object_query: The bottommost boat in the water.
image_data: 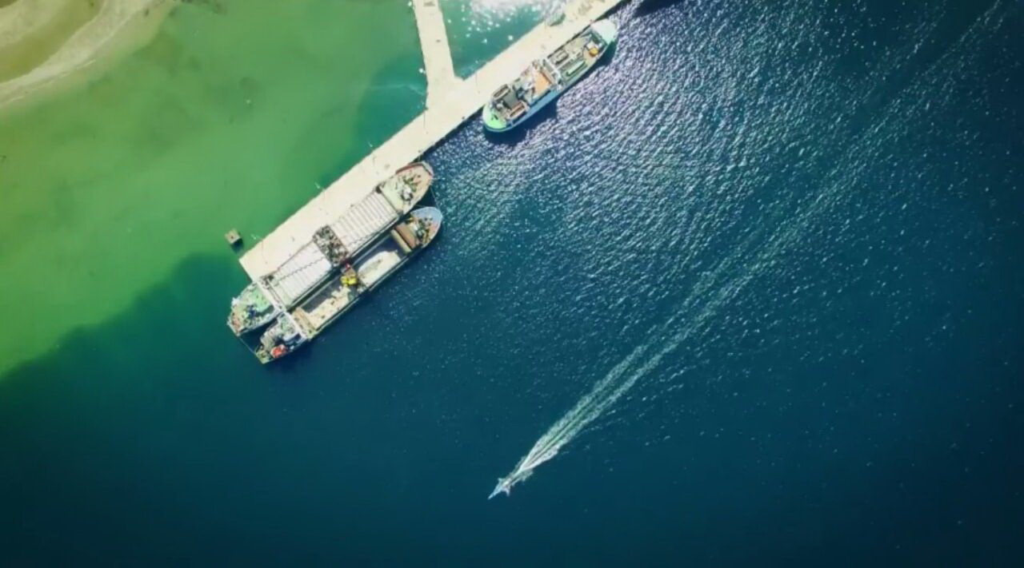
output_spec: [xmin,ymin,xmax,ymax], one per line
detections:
[487,479,512,501]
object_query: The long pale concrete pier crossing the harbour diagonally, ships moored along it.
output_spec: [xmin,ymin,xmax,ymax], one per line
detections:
[240,0,620,281]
